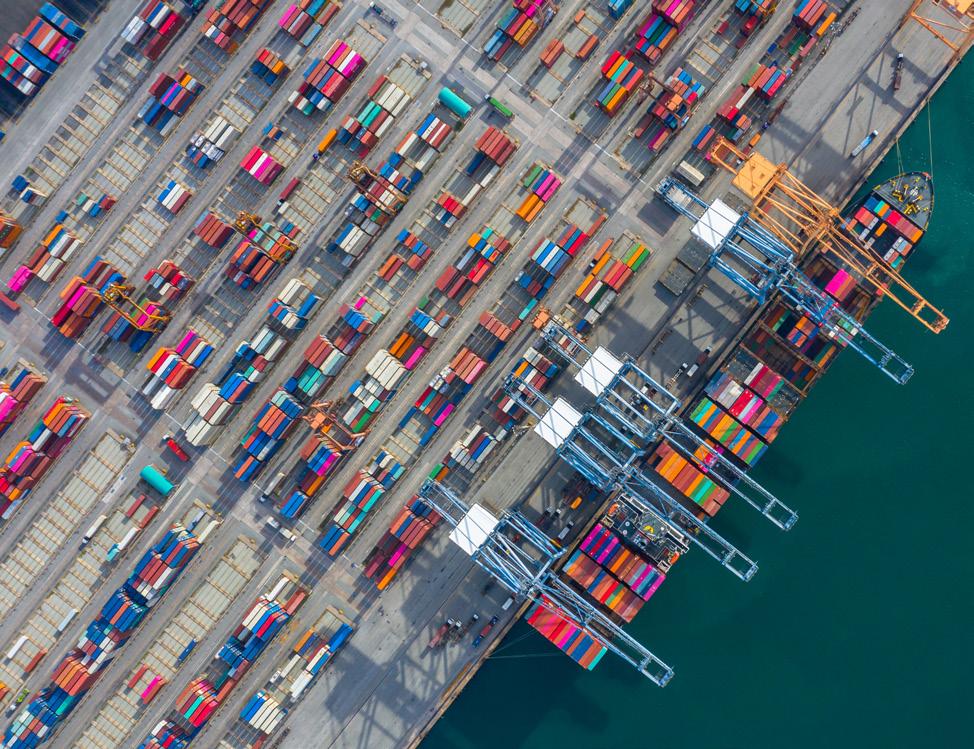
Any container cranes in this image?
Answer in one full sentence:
Yes, the image includes a container crane.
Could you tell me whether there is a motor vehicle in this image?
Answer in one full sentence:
Yes, there's a motor vehicle here.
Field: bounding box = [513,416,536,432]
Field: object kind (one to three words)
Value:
work vehicle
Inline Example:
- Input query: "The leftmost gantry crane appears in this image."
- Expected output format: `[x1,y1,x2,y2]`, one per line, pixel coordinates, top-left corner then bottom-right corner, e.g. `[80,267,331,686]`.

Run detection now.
[103,275,184,332]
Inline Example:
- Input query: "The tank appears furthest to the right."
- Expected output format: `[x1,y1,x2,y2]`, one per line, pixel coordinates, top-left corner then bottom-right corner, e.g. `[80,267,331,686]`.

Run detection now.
[438,88,473,120]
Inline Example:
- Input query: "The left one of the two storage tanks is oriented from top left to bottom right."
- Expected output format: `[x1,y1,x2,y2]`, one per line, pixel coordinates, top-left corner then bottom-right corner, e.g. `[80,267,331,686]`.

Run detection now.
[139,467,177,497]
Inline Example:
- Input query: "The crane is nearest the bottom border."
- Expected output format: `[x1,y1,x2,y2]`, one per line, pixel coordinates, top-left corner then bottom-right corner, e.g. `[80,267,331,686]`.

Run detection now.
[420,480,672,685]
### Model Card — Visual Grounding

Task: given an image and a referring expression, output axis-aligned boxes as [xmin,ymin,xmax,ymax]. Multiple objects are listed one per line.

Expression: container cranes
[420,480,672,685]
[543,324,797,532]
[103,275,184,332]
[900,0,974,65]
[502,375,755,583]
[343,155,411,219]
[234,199,308,261]
[695,131,953,342]
[634,68,697,137]
[308,392,378,446]
[534,303,592,358]
[657,180,912,390]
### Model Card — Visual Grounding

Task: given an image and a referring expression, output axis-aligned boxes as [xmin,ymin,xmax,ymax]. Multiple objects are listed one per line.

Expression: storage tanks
[438,88,473,120]
[139,467,177,497]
